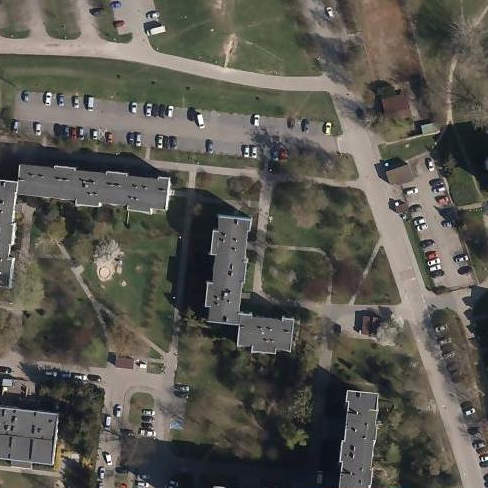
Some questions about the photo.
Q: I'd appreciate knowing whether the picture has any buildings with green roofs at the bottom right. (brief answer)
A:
No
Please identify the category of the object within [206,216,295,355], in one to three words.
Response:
building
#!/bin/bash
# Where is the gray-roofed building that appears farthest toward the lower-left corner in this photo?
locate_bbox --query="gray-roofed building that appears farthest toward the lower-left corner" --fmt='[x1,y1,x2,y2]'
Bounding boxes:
[0,407,60,469]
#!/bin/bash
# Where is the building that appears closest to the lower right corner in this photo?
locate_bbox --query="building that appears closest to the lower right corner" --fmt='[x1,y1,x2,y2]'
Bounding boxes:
[339,391,379,488]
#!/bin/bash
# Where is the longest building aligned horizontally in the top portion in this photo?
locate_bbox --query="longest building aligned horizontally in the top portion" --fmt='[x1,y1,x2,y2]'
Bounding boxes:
[18,165,172,216]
